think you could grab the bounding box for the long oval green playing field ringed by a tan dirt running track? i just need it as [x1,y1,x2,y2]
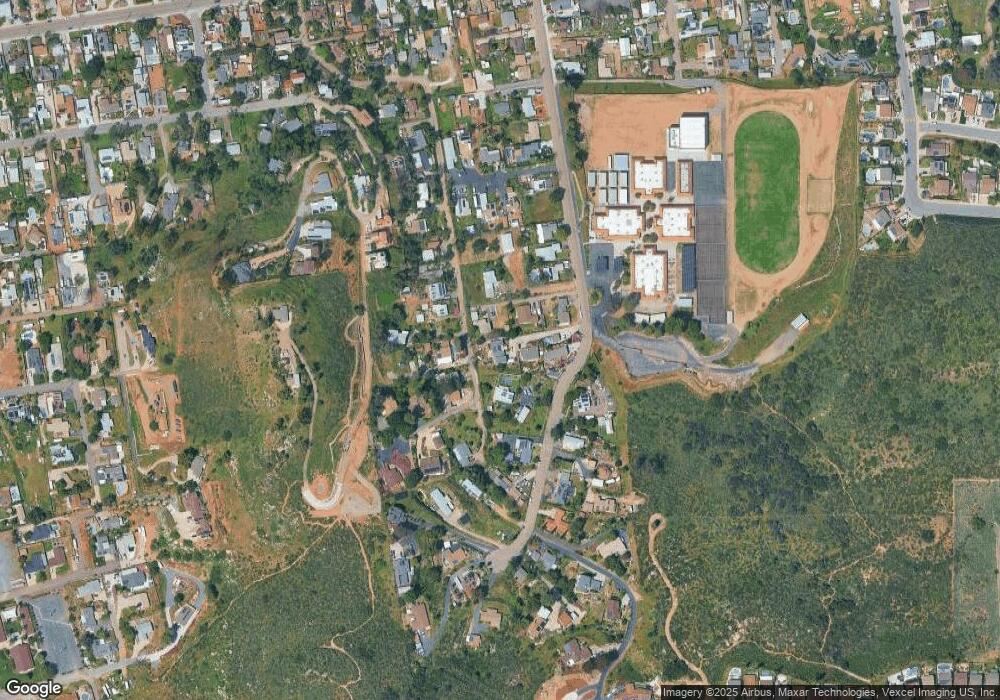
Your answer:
[729,105,806,279]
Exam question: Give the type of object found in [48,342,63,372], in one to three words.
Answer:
house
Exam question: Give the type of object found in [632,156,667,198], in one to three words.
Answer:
building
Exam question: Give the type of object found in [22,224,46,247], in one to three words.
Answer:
house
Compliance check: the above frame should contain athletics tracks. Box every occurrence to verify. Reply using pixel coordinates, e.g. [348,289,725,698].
[729,105,806,279]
